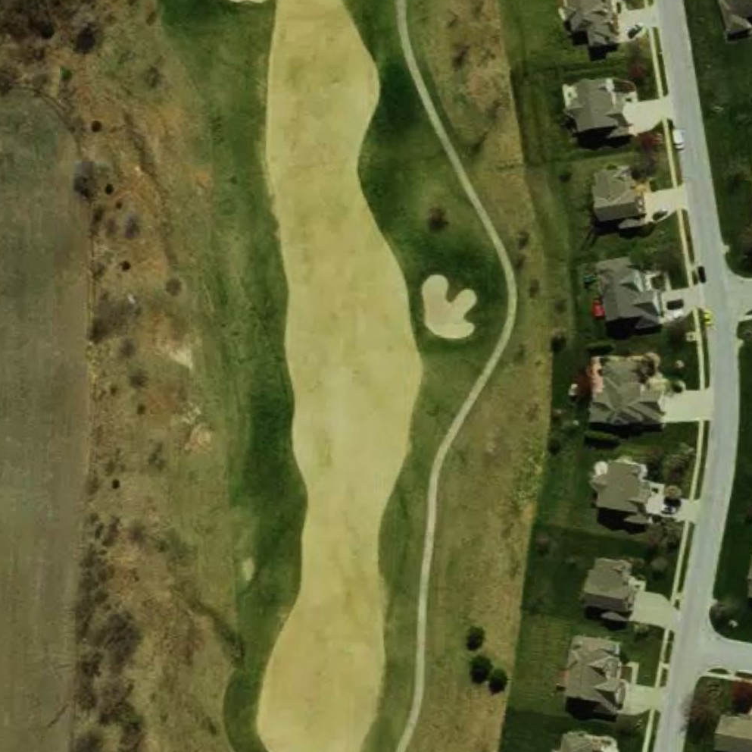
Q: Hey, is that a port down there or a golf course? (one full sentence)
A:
What you see here is a golf course.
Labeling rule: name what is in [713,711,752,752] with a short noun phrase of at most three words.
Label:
house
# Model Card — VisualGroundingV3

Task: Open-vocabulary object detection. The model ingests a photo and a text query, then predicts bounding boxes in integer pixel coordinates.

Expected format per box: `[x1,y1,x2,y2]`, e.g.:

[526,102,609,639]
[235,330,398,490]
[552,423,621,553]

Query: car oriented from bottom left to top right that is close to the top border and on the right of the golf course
[626,24,643,38]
